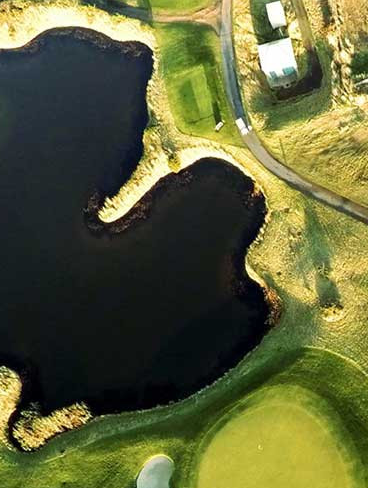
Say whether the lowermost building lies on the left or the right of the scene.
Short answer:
right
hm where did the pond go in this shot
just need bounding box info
[0,26,273,452]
